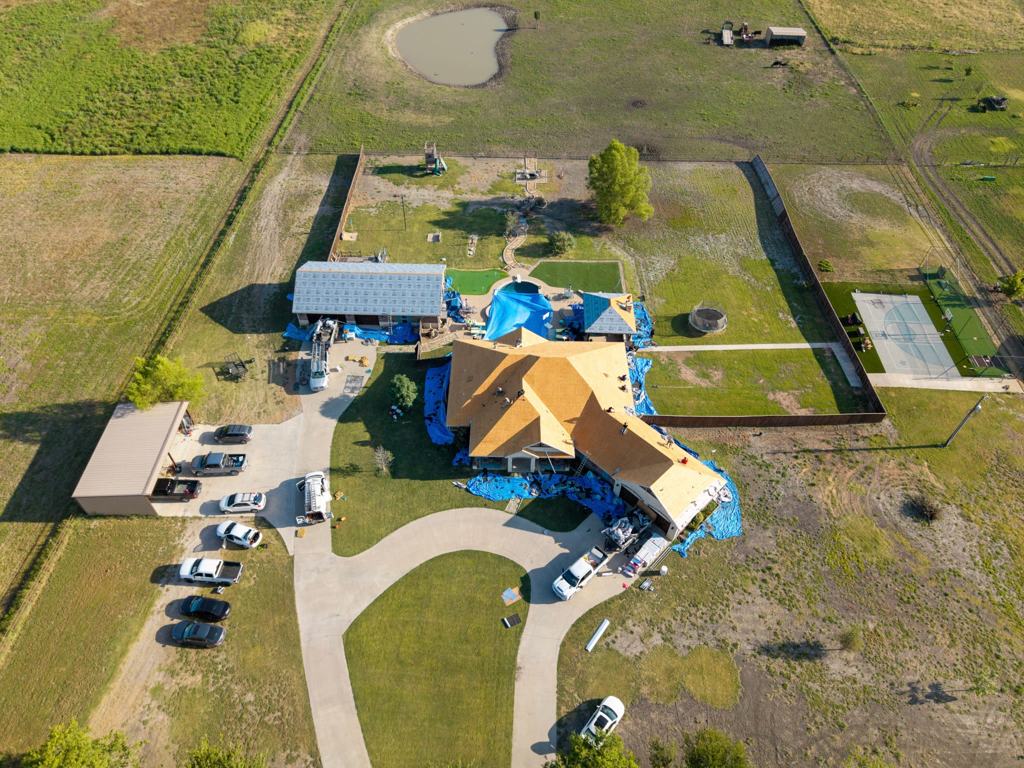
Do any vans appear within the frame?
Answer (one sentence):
Yes, the frame does contain a van.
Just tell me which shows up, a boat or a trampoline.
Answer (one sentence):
This aerial view contains a trampoline.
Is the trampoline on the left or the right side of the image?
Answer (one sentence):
It is on the right.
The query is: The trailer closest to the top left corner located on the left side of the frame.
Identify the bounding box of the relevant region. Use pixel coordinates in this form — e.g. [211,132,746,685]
[208,346,251,384]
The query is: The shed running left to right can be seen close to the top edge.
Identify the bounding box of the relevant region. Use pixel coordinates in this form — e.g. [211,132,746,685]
[764,27,809,46]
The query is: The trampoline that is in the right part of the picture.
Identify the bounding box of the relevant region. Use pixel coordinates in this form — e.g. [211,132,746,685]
[690,298,730,338]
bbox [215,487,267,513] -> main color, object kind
white car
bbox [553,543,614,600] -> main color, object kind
white truck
